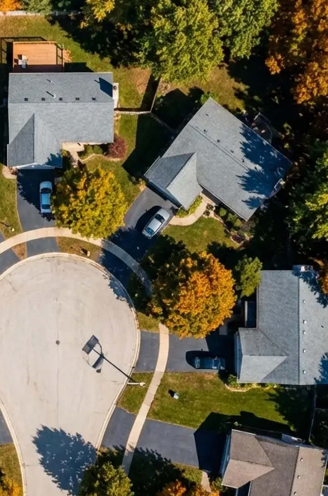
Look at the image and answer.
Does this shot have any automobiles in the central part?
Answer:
Yes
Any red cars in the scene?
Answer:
No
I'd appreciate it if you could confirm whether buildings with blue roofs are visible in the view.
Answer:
No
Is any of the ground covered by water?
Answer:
No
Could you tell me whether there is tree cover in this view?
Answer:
Yes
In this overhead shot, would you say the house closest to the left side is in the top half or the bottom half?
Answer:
top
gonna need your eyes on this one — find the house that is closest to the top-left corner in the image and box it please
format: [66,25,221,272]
[6,72,120,169]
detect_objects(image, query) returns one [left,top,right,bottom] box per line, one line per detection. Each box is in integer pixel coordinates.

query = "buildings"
[6,72,120,169]
[233,263,328,386]
[218,424,328,496]
[143,97,291,222]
